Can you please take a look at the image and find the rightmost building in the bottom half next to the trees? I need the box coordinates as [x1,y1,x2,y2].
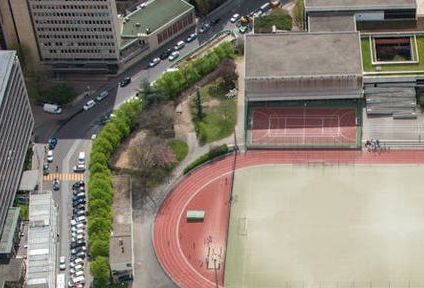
[110,175,134,273]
